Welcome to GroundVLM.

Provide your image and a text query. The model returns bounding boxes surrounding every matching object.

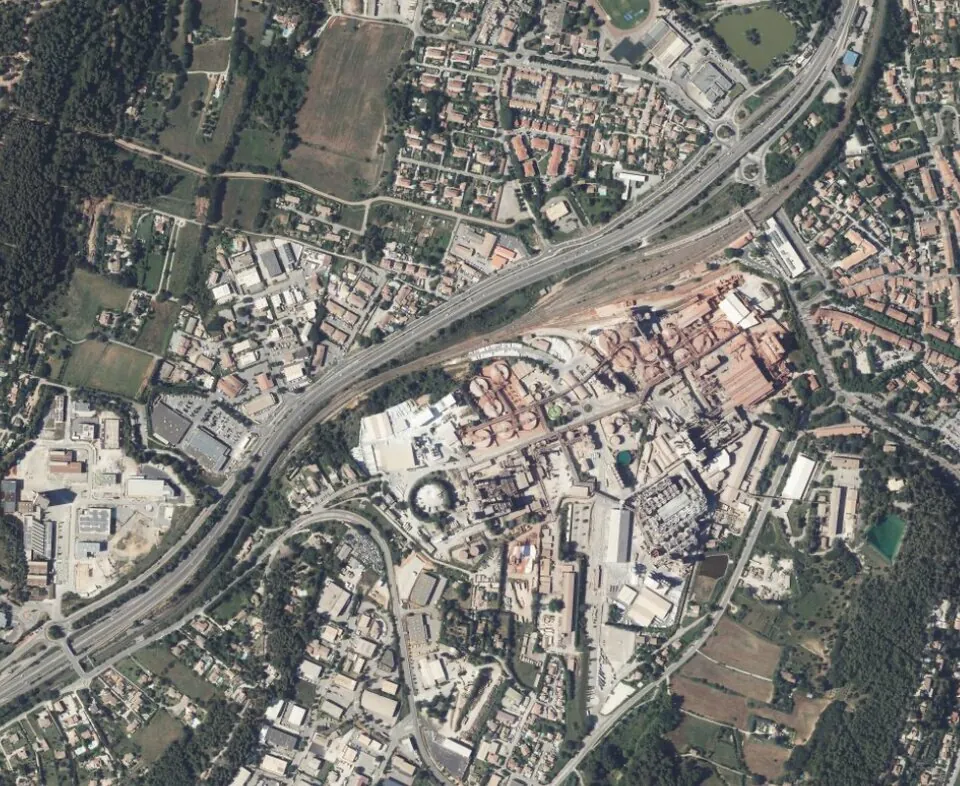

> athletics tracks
[594,0,660,37]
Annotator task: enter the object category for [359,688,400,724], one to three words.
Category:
shed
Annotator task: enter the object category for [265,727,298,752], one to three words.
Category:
building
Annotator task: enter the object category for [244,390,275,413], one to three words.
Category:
building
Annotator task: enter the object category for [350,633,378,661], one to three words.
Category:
shed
